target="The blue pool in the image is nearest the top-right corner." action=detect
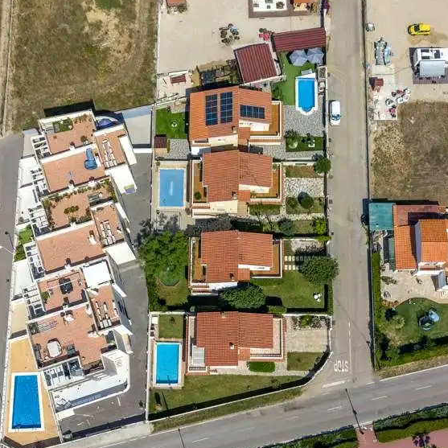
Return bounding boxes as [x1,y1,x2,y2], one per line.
[296,77,318,116]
